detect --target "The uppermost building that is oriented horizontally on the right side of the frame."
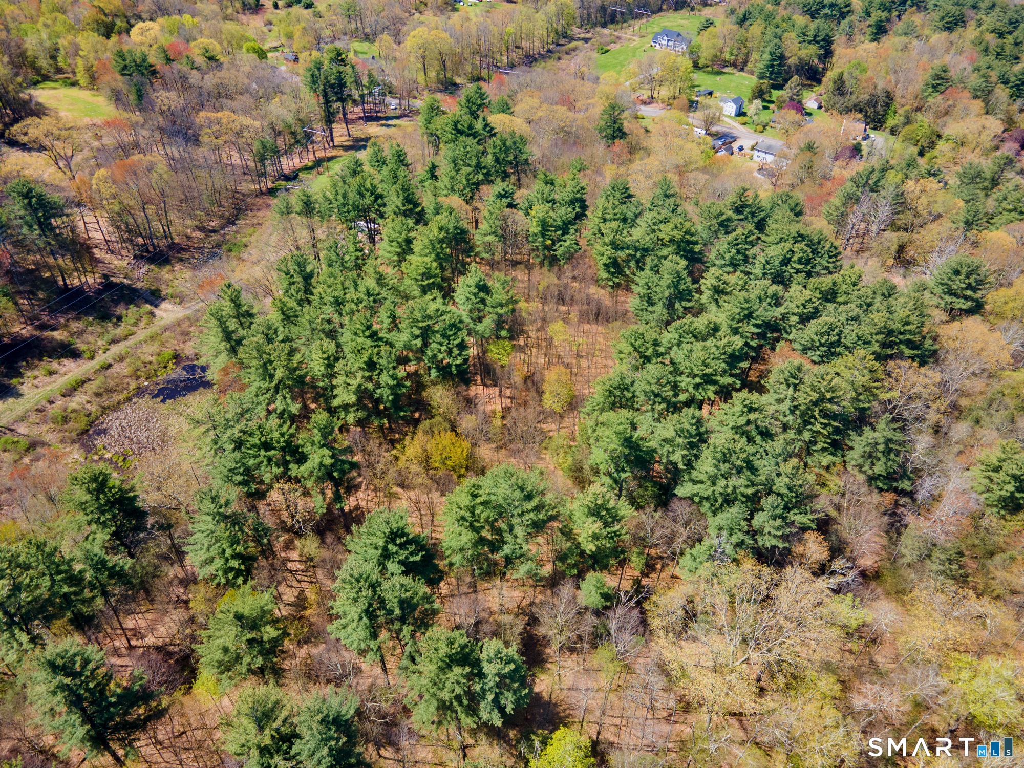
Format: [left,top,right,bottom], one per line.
[648,28,696,51]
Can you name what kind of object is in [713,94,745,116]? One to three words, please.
house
